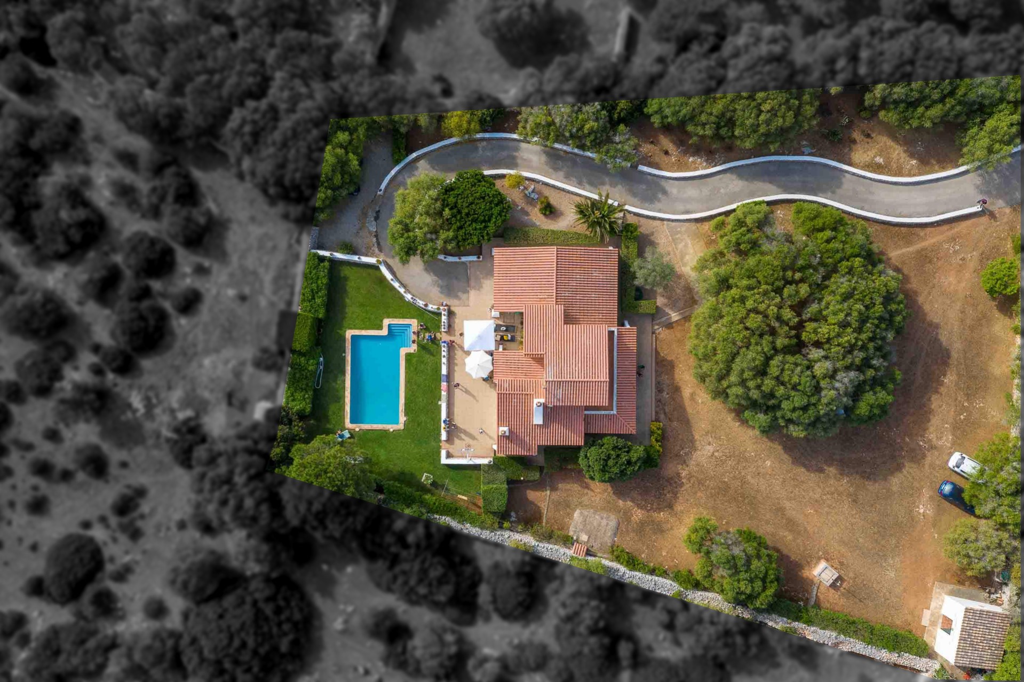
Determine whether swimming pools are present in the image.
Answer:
Yes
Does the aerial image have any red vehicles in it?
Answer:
No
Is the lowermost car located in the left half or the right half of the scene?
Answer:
right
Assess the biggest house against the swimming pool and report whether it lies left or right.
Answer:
on its right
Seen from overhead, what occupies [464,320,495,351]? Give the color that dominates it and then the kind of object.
white gazebo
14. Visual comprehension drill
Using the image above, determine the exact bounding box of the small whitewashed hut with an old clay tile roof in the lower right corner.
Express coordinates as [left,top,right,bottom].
[938,596,1012,669]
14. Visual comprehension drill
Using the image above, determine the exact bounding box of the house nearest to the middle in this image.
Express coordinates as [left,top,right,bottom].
[491,246,638,456]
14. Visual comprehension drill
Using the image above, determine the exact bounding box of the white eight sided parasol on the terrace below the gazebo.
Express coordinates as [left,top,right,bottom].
[464,350,494,380]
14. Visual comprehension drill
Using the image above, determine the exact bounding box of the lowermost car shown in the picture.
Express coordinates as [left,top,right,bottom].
[939,480,975,514]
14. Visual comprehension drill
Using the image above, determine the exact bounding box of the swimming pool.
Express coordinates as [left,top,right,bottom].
[346,319,417,432]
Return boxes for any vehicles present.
[939,480,975,514]
[950,452,990,483]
